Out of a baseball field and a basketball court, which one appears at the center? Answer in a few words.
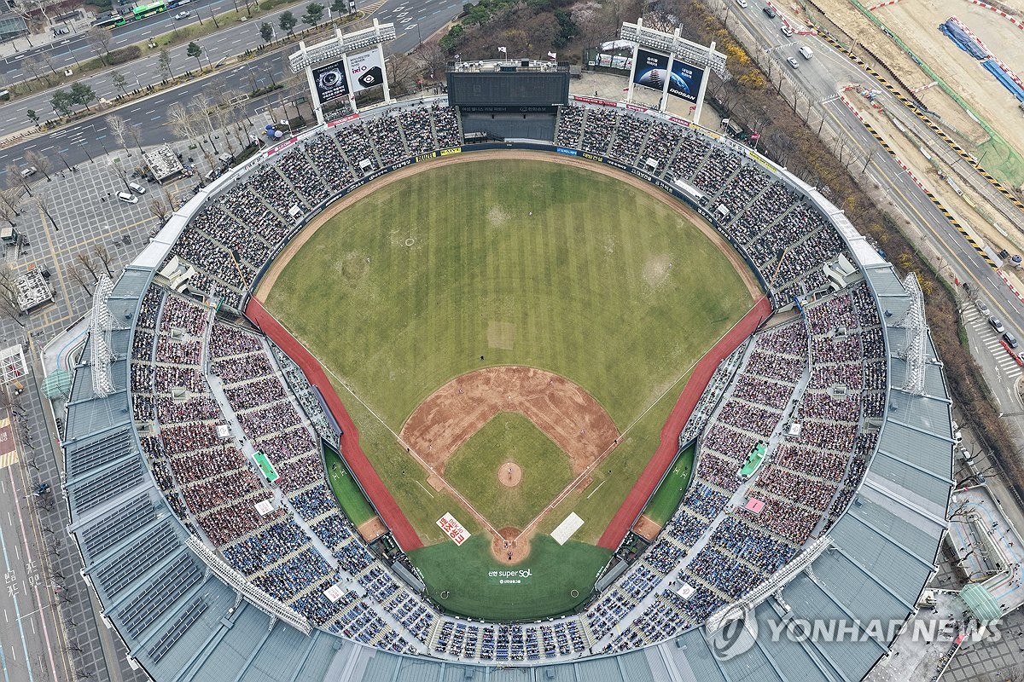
baseball field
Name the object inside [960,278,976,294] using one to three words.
car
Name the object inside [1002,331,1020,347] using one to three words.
car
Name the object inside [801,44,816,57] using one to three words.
vehicle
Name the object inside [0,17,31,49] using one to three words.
building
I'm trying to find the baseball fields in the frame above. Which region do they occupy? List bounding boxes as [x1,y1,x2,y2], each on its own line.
[247,149,772,621]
